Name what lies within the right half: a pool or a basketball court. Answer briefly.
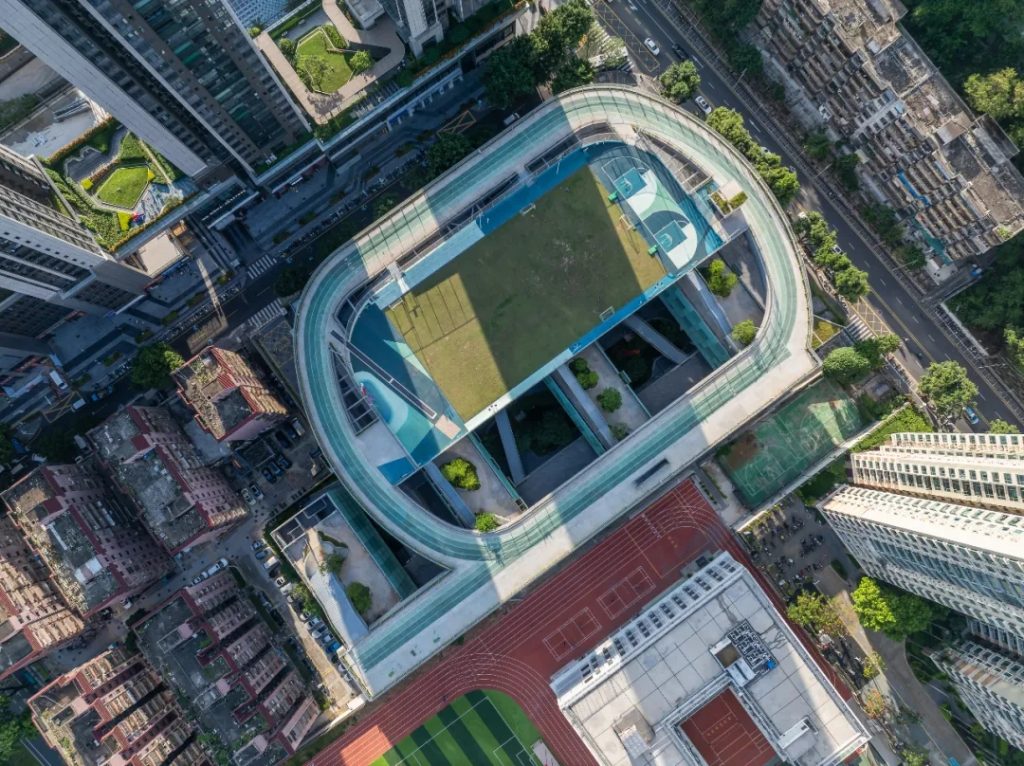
basketball court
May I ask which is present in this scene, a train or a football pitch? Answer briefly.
football pitch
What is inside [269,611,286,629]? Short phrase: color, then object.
black car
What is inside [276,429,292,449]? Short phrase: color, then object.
black car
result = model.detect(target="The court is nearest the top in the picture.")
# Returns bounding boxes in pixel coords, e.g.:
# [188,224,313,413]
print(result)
[583,142,724,269]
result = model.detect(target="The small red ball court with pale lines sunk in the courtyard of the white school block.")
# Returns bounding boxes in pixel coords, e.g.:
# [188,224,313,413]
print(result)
[673,684,773,766]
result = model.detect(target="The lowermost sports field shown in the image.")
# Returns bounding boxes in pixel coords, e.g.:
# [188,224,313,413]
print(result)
[375,689,549,766]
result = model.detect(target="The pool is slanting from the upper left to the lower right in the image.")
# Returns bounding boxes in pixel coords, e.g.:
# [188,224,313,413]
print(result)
[360,378,392,421]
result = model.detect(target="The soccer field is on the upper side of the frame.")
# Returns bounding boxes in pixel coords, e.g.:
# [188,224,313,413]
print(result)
[374,149,677,430]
